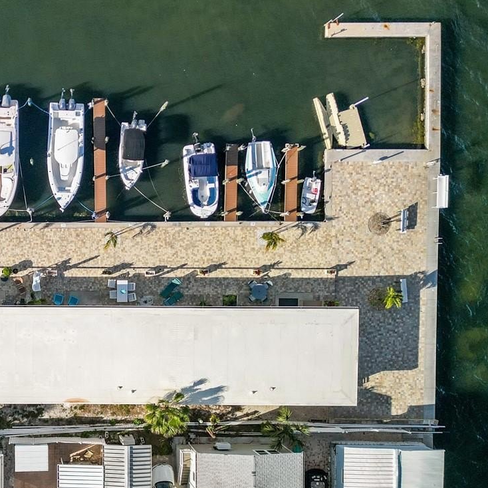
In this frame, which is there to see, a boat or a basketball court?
boat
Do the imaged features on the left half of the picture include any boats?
Yes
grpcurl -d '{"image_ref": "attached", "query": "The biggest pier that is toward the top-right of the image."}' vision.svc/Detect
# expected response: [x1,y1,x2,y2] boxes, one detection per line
[321,23,440,150]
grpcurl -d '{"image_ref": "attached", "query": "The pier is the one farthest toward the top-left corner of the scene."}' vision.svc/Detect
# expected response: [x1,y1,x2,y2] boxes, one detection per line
[93,98,107,221]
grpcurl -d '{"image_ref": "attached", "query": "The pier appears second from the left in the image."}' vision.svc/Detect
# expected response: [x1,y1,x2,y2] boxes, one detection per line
[224,143,238,221]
